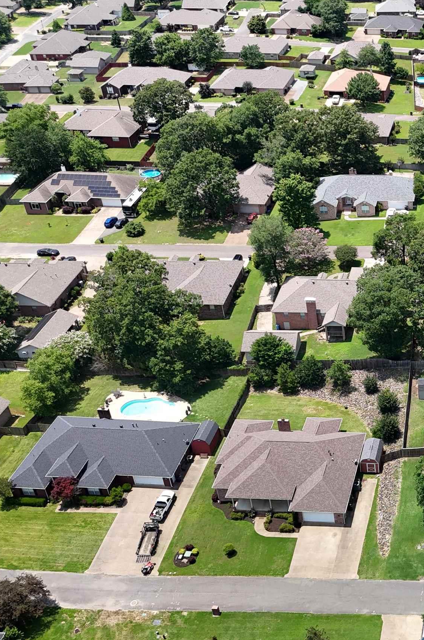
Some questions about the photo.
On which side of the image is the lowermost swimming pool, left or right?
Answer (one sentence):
The lowermost swimming pool appears in the left half of the scene.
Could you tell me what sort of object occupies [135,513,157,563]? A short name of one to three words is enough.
trailer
